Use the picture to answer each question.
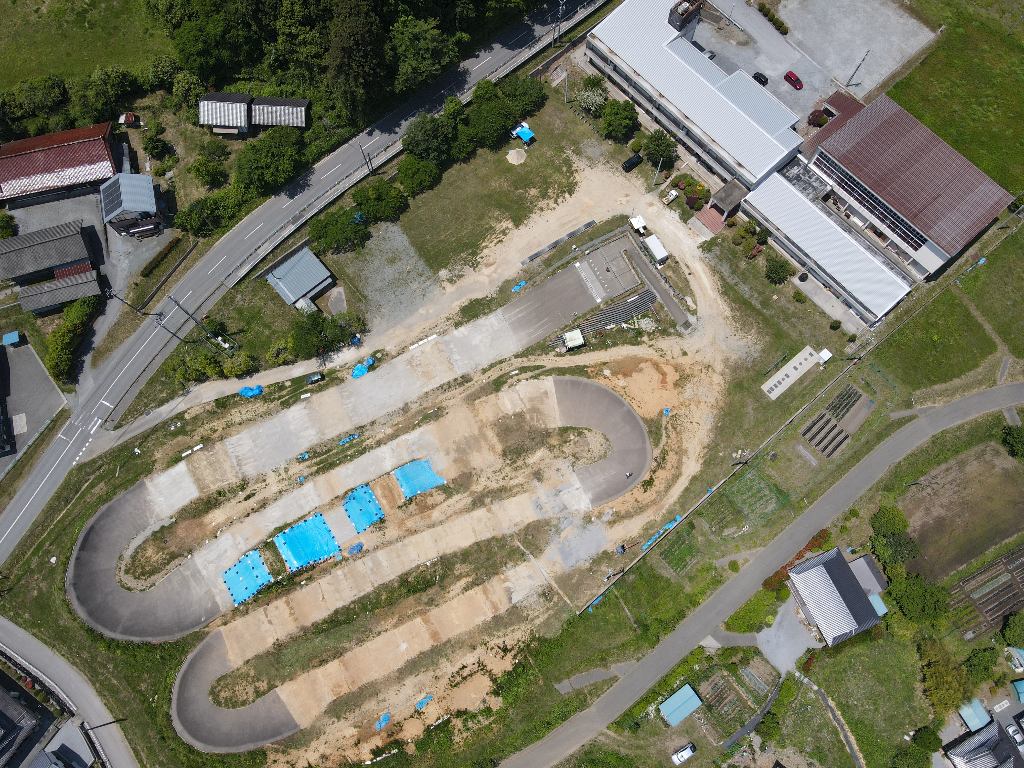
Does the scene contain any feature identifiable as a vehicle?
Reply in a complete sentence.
Yes, a vehicle appears in the view.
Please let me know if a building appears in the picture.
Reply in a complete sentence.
Yes, there is a building in the image.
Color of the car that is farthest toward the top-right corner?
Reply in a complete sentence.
From above, the car that is farthest toward the top-right corner appears red.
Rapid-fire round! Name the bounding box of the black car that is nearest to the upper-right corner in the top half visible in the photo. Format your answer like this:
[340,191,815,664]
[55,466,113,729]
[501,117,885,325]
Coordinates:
[752,71,769,86]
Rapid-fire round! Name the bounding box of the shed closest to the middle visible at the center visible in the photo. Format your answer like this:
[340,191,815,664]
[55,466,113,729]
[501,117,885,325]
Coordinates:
[563,329,584,350]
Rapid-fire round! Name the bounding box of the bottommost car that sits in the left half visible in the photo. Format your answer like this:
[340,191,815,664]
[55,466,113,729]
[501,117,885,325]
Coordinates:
[304,371,323,385]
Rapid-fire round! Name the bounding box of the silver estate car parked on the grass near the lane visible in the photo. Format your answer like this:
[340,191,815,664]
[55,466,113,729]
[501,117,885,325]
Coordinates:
[670,741,699,768]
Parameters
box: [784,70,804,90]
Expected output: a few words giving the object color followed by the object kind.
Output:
red car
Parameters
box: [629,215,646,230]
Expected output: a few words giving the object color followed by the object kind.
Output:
white gazebo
